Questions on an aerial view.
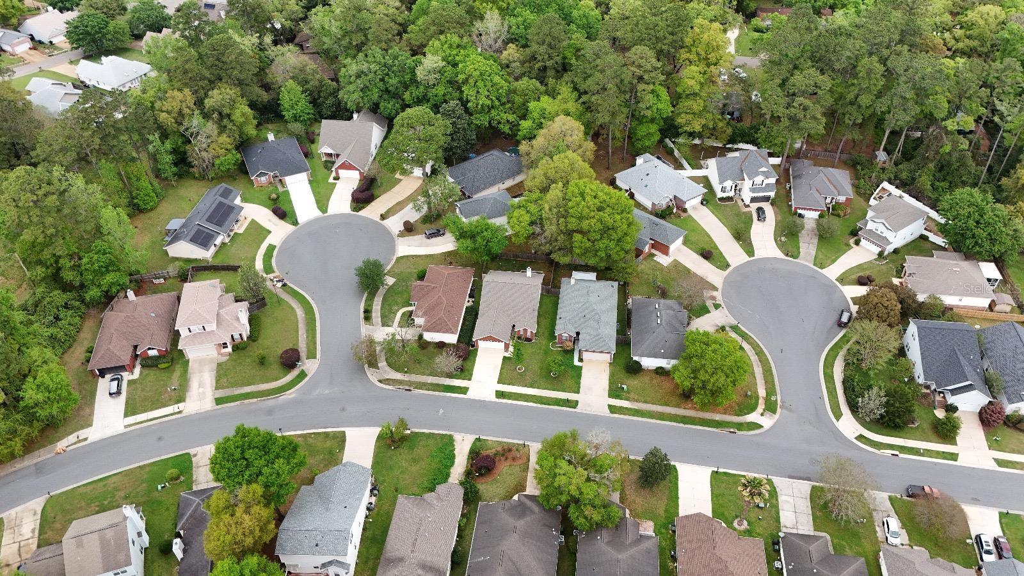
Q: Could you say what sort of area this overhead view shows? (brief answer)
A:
residential area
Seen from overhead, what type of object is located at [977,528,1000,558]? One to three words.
car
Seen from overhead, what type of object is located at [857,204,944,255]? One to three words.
house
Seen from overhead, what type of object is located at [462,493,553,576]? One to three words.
house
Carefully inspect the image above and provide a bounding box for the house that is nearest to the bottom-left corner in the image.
[21,501,151,576]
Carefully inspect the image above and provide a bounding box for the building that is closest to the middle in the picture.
[473,265,547,352]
